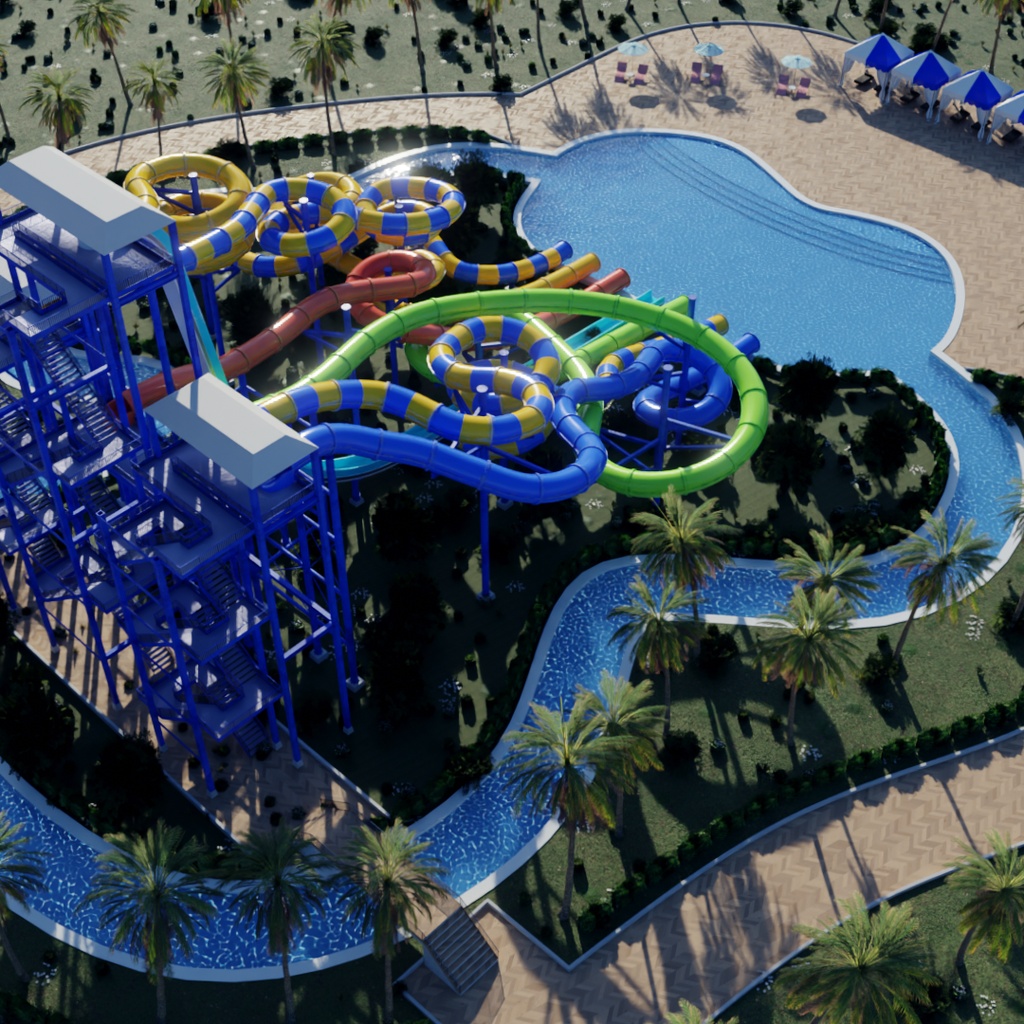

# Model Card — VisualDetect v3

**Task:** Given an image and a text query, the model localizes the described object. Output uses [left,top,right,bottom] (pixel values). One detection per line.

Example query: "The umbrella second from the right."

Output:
[692,42,727,72]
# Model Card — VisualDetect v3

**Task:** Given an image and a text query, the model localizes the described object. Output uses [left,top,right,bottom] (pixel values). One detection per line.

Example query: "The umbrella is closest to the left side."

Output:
[616,43,649,72]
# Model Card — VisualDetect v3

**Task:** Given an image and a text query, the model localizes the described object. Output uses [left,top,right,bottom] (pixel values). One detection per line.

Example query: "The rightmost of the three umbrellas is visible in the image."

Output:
[781,55,814,85]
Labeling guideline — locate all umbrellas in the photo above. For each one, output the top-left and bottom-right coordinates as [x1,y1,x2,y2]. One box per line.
[781,55,814,85]
[692,42,727,72]
[616,43,649,72]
